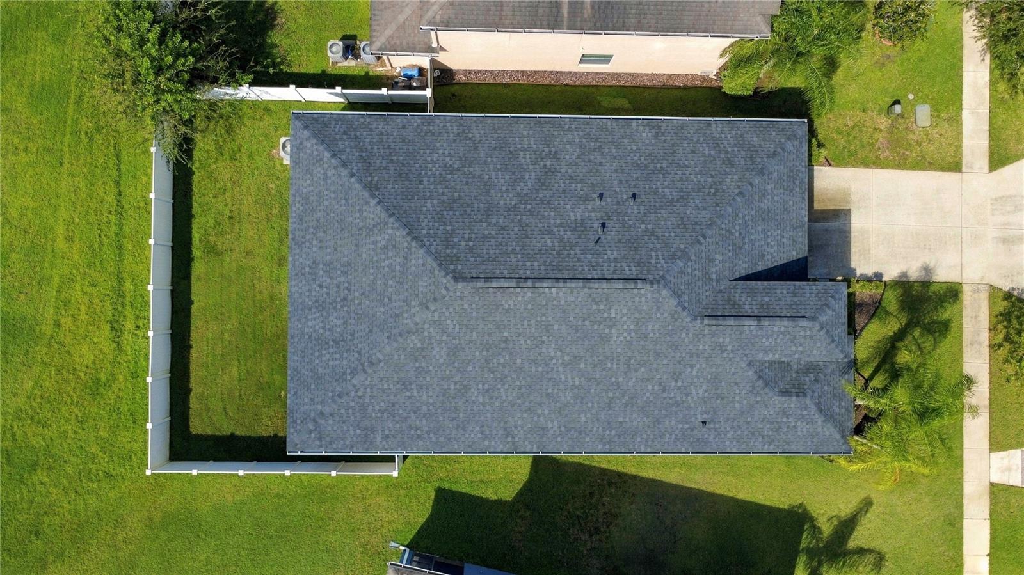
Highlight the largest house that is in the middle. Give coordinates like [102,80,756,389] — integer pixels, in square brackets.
[284,110,855,456]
